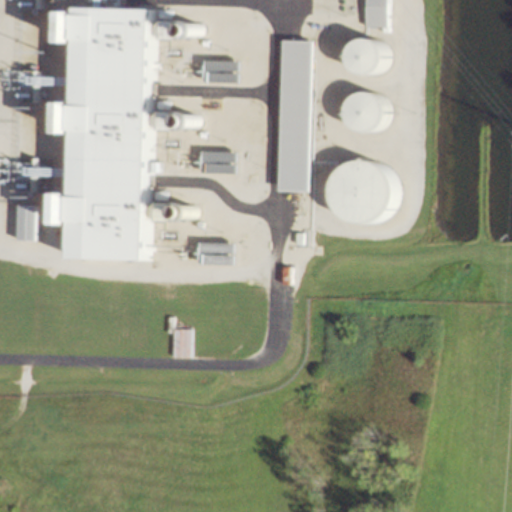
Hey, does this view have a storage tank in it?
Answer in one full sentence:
Yes, the frame does contain a storage tank.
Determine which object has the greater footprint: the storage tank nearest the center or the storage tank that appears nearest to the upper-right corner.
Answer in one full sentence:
The storage tank nearest the center is larger than the storage tank that appears nearest to the upper-right corner.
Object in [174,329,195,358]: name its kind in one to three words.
shed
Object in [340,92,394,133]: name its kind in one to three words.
storage tank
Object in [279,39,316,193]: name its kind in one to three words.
building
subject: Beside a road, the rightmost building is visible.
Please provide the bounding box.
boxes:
[365,0,394,33]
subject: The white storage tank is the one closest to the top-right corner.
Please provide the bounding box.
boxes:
[340,38,394,76]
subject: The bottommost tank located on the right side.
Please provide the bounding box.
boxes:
[324,158,404,224]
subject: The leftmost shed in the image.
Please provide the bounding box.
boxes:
[16,204,44,241]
